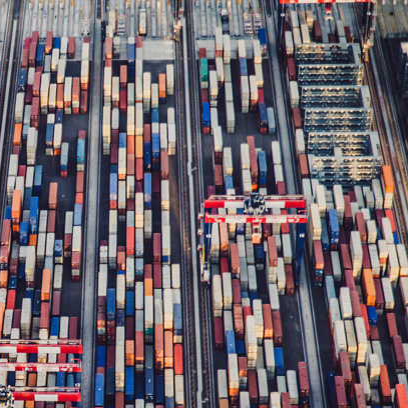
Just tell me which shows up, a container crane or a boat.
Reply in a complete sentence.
Of the two, only a container crane appears.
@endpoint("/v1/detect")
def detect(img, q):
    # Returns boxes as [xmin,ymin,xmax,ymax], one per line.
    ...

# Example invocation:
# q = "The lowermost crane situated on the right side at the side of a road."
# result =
[196,193,305,283]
